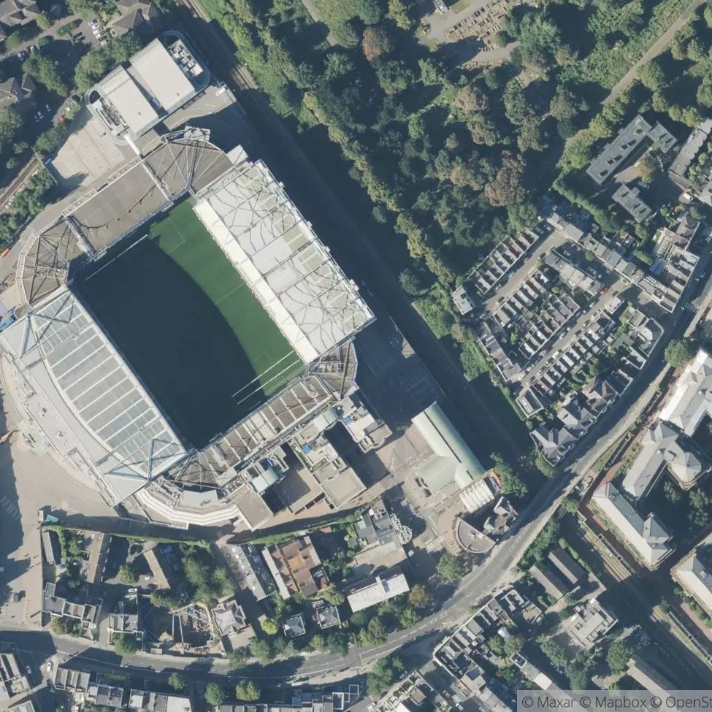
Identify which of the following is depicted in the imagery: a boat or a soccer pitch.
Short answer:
soccer pitch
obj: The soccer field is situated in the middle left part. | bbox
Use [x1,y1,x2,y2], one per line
[68,197,309,455]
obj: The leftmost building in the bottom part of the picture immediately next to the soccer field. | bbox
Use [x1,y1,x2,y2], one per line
[131,479,240,531]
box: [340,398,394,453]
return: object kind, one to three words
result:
building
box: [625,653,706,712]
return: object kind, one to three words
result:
building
